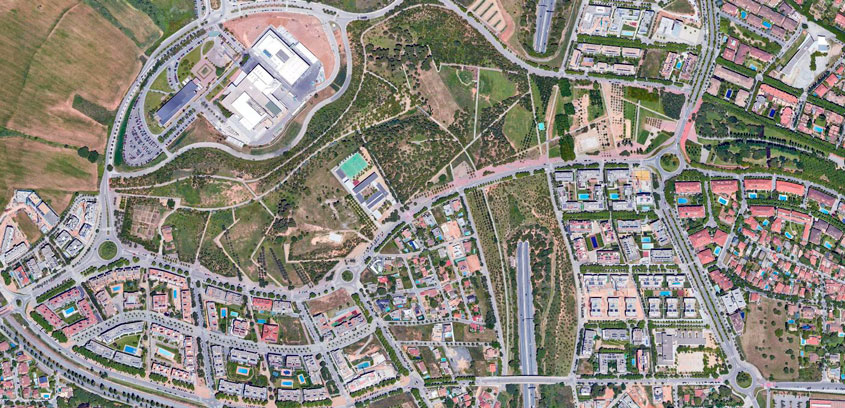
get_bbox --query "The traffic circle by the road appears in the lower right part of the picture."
[729,365,758,395]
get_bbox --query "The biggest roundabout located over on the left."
[92,235,122,264]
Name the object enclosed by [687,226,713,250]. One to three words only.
house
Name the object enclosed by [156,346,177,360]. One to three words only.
swimming pool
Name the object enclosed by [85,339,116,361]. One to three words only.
building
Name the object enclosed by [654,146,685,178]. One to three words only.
roundabout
